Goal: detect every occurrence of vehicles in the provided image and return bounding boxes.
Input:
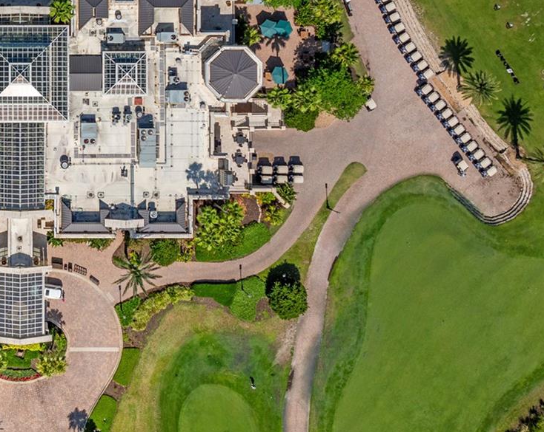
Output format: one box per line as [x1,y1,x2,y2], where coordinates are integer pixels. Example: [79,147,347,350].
[397,40,417,54]
[287,163,304,172]
[478,164,499,178]
[446,122,466,137]
[472,155,493,170]
[286,174,303,183]
[416,81,435,97]
[434,105,454,120]
[458,139,479,154]
[272,164,289,172]
[256,174,274,183]
[465,147,485,162]
[403,50,422,64]
[377,0,397,14]
[453,131,473,146]
[271,174,289,183]
[409,58,429,72]
[420,90,440,104]
[449,155,469,172]
[391,30,411,44]
[256,164,274,173]
[382,10,402,24]
[49,284,68,298]
[387,20,406,35]
[414,67,435,80]
[440,113,461,128]
[361,96,377,112]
